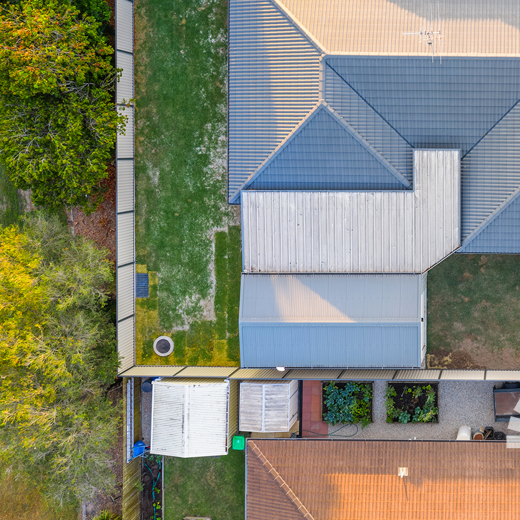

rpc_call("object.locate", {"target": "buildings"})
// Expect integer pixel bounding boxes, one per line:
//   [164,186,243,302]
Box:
[151,378,238,457]
[226,0,520,257]
[239,379,299,433]
[242,438,520,520]
[235,273,429,373]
